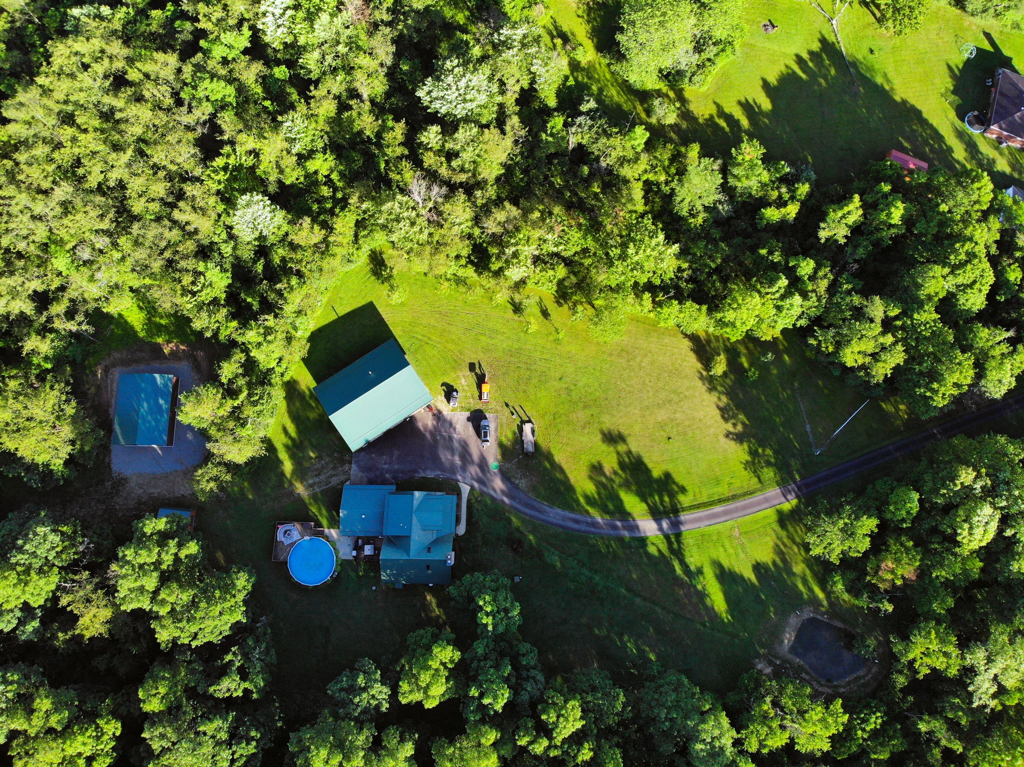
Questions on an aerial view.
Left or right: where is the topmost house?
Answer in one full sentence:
You can find the topmost house on the right side of the picture.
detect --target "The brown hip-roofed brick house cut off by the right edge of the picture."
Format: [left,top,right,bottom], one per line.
[981,65,1024,140]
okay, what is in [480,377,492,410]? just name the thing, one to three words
vehicle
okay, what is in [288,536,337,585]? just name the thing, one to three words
swimming pool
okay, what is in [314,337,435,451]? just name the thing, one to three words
barn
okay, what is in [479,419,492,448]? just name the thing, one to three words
vehicle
